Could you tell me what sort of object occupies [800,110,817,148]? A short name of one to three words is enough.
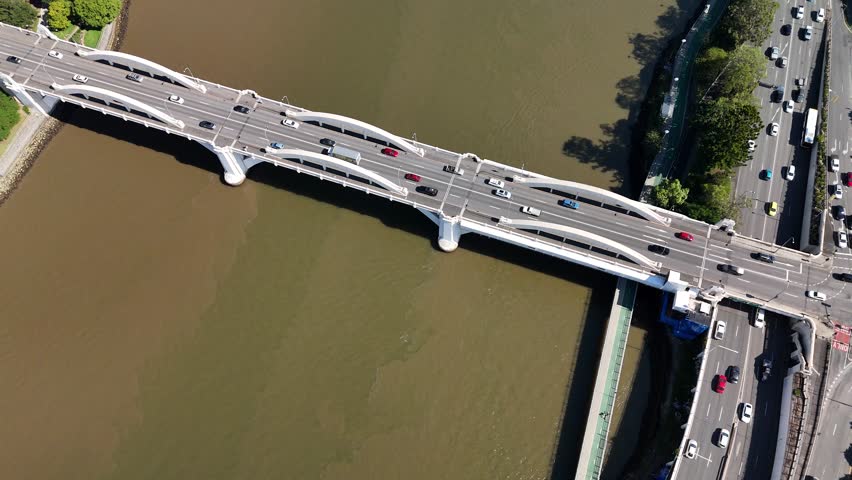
vehicle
